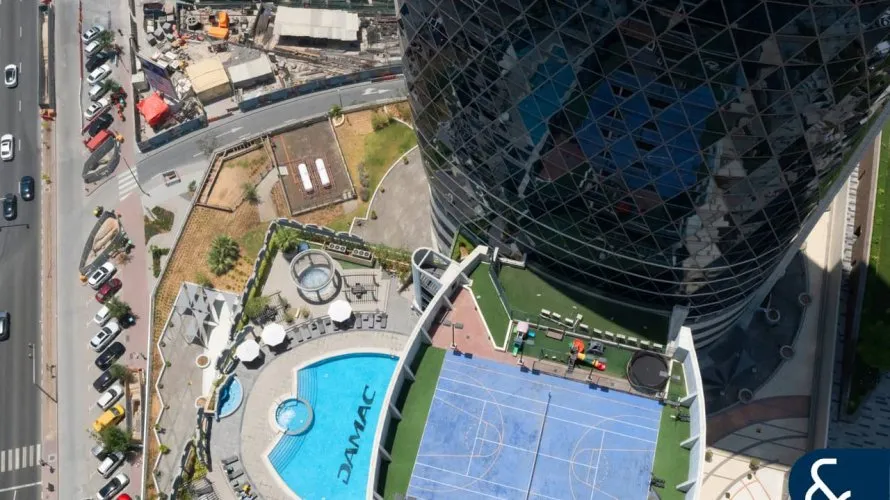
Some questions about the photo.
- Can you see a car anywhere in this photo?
Yes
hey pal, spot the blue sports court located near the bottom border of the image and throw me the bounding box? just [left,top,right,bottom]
[406,355,663,500]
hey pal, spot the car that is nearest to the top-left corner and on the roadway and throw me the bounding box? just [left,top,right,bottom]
[4,64,18,87]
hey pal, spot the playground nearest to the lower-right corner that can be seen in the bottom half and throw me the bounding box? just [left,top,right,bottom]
[564,338,610,373]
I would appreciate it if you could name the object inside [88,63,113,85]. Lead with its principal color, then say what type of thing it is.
white car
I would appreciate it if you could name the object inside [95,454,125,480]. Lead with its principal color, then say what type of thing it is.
white car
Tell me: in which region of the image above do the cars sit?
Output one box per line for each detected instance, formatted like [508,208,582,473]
[89,324,119,349]
[96,386,123,410]
[95,343,124,370]
[82,35,106,58]
[89,113,114,135]
[95,454,125,480]
[20,176,35,203]
[0,136,15,161]
[4,64,18,87]
[81,23,103,44]
[85,83,109,103]
[91,369,114,395]
[121,489,141,500]
[84,50,108,72]
[84,128,112,151]
[91,303,115,328]
[97,473,128,500]
[88,63,113,85]
[85,436,111,463]
[87,263,116,290]
[96,407,123,433]
[3,195,17,221]
[95,278,123,303]
[86,97,111,119]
